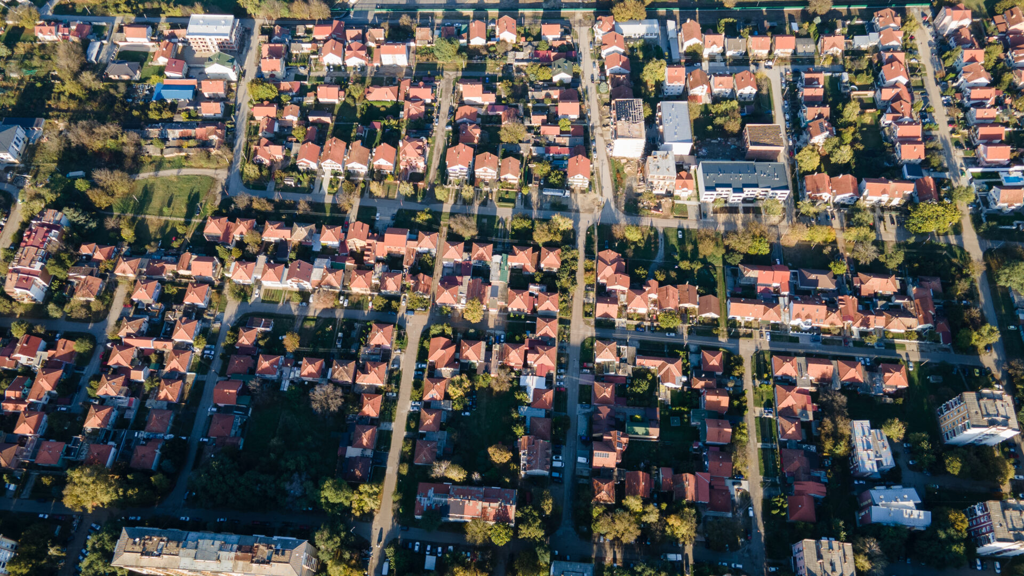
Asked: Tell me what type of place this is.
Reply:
residential area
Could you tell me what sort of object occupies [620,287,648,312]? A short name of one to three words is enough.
house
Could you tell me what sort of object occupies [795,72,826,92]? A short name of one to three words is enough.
house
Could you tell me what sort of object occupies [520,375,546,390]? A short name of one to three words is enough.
shed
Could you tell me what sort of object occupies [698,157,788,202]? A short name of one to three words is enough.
building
